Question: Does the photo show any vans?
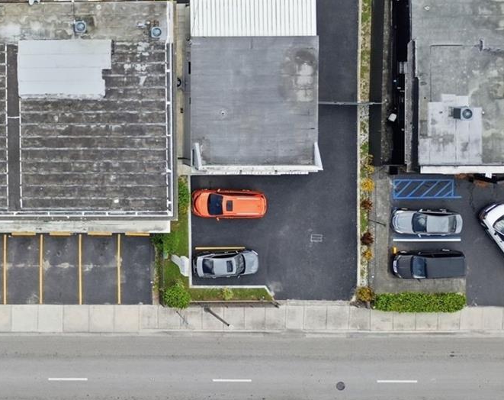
Yes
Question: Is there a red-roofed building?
No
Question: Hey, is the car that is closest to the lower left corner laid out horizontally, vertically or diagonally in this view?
horizontally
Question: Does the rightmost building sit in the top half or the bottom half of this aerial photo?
top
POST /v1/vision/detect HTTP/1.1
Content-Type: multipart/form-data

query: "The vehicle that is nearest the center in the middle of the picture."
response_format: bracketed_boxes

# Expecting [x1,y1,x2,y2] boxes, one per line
[191,189,268,221]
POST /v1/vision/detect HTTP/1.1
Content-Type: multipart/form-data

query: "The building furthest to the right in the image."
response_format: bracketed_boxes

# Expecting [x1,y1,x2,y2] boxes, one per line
[398,0,504,173]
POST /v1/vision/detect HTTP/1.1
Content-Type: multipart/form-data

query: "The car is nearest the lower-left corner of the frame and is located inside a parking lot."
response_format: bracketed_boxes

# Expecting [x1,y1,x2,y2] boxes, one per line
[191,247,257,279]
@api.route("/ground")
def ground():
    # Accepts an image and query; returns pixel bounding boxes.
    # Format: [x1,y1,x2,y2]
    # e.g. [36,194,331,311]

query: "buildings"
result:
[0,1,178,233]
[183,0,324,173]
[398,0,504,173]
